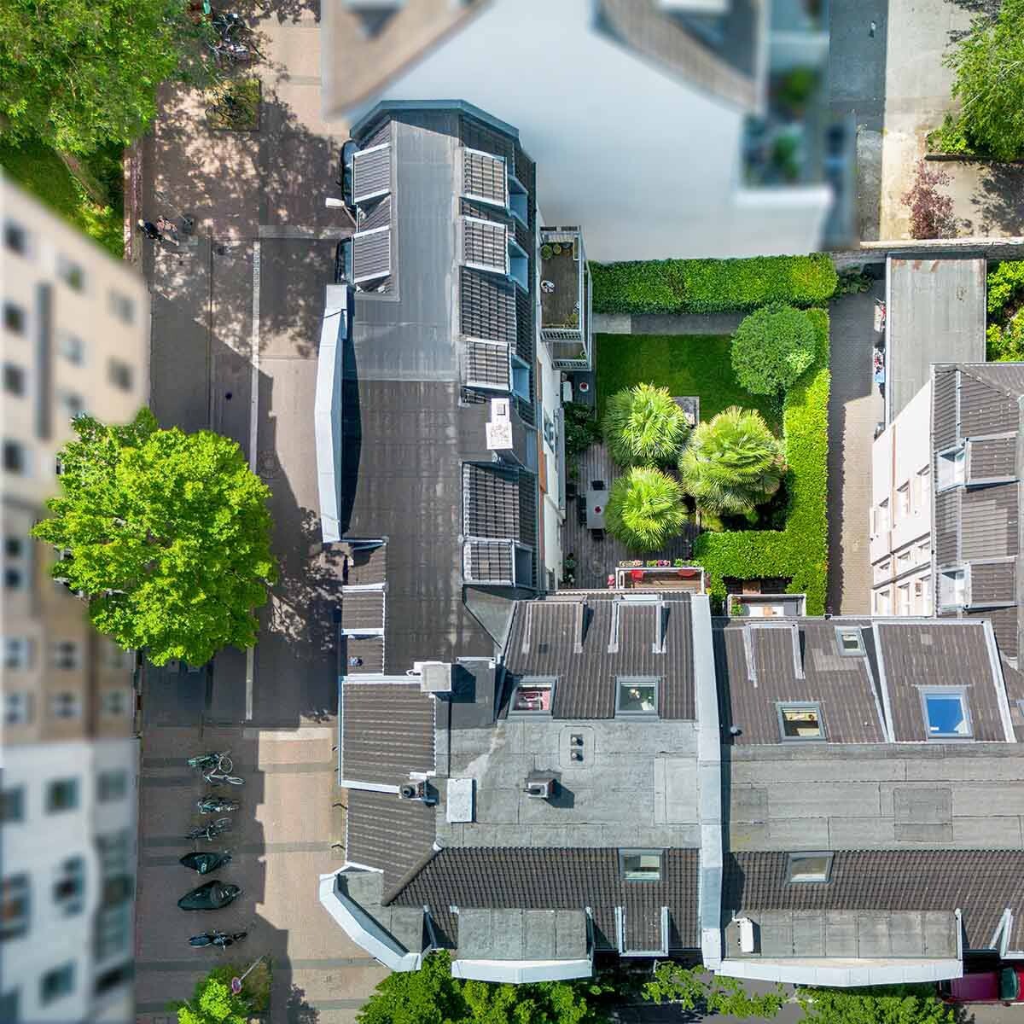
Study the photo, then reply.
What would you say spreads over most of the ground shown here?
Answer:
buildings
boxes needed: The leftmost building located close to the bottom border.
[0,740,141,1024]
